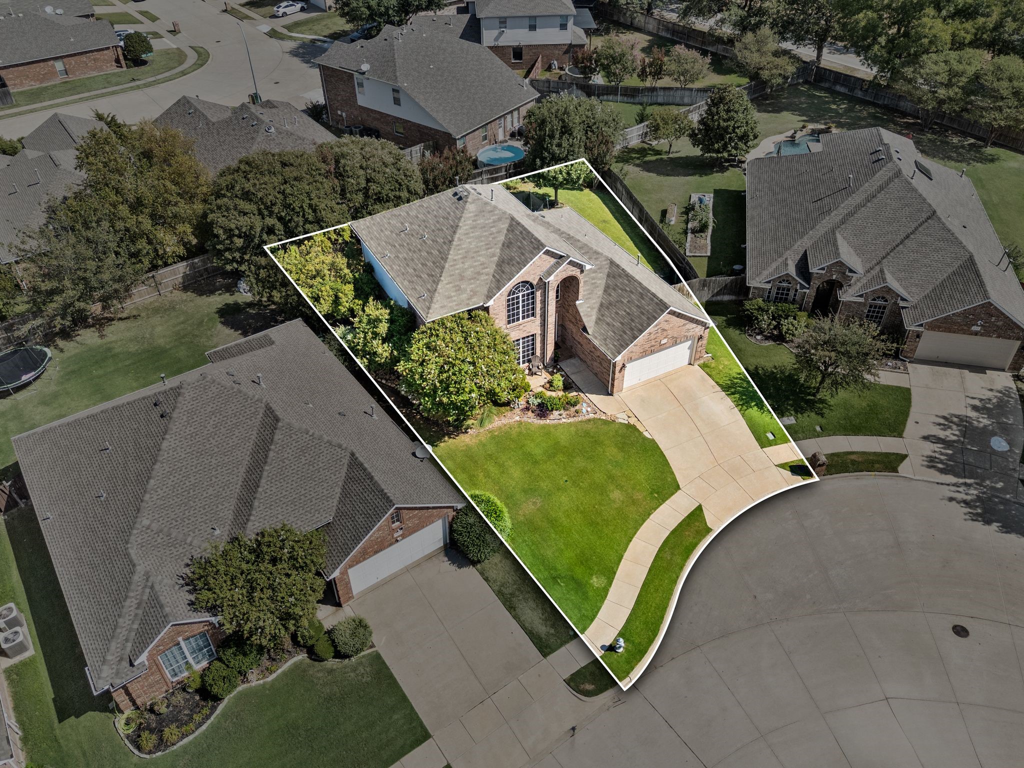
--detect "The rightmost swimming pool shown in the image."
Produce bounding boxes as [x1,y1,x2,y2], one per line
[759,121,842,158]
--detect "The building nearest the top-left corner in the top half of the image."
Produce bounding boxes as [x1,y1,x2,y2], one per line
[0,0,126,91]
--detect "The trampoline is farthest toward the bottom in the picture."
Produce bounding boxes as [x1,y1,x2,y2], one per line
[0,313,61,393]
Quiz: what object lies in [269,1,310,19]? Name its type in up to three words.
car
